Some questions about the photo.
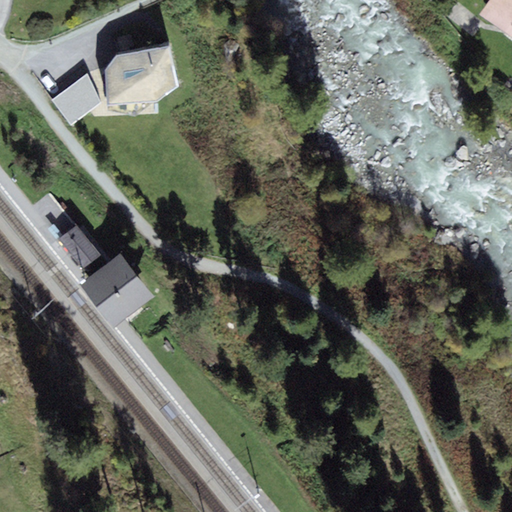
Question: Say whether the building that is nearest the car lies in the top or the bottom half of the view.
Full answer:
The building that is nearest the car sits in the top half of the picture.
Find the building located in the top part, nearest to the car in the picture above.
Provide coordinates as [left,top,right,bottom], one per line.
[52,74,101,125]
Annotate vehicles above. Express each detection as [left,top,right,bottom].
[40,72,58,94]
